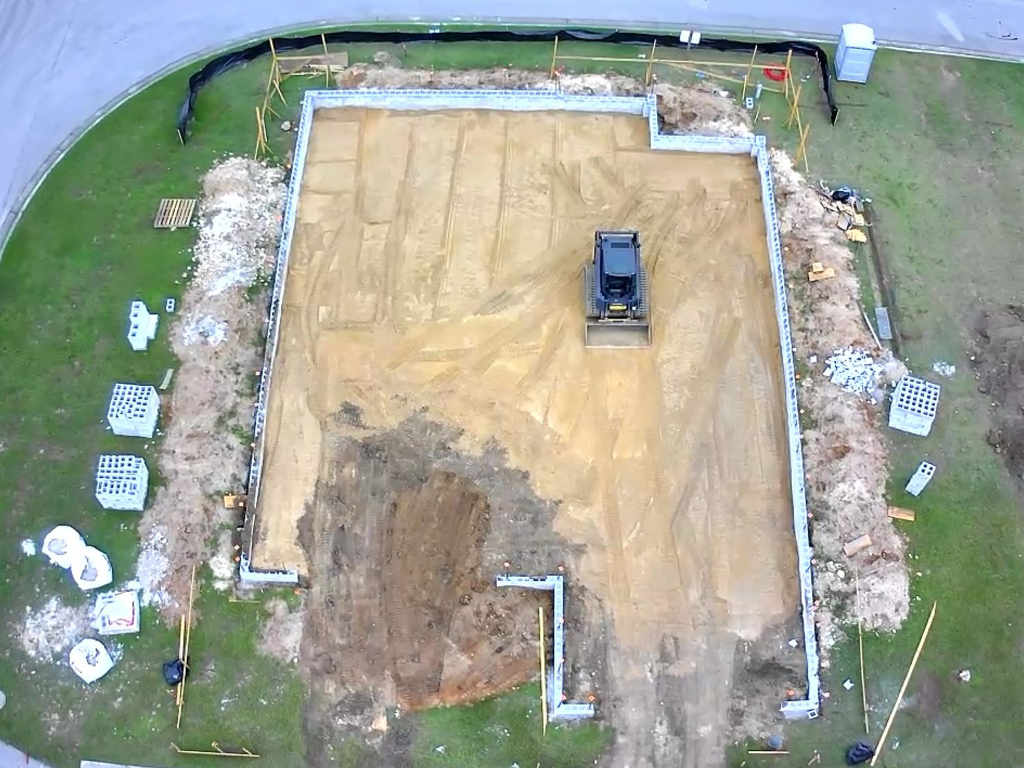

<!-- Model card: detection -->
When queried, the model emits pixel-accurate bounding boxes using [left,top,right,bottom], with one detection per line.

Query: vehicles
[585,229,652,348]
